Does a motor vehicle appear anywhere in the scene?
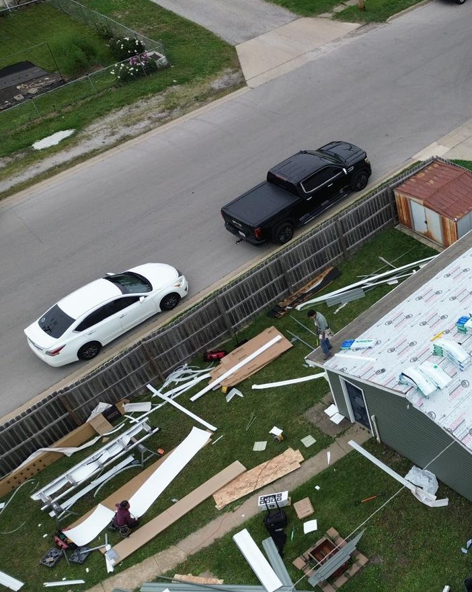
Yes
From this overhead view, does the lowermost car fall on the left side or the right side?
left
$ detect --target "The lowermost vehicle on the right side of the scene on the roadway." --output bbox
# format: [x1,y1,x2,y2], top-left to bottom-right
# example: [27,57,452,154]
[220,144,377,249]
